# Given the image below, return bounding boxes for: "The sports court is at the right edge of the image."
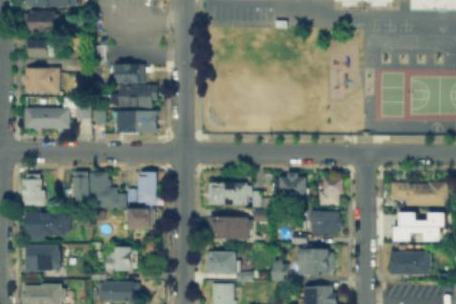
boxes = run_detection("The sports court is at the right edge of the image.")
[376,70,456,120]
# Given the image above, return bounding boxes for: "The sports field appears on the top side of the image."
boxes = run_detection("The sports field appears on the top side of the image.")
[202,27,366,132]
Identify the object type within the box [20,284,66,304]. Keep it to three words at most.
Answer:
house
